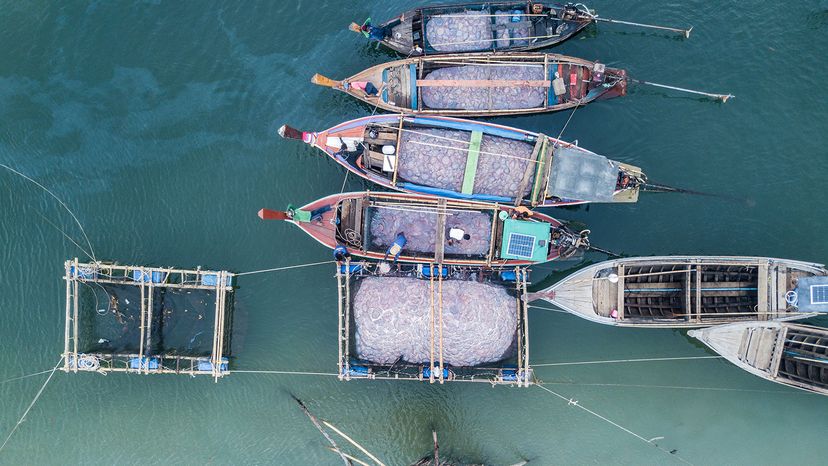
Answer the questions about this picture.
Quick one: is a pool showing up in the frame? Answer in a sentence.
No, this view has no pool in it.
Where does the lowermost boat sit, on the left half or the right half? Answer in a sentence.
The lowermost boat is on the right side of the image.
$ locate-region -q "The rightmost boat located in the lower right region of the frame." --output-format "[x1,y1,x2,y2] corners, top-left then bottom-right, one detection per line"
[677,320,828,396]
